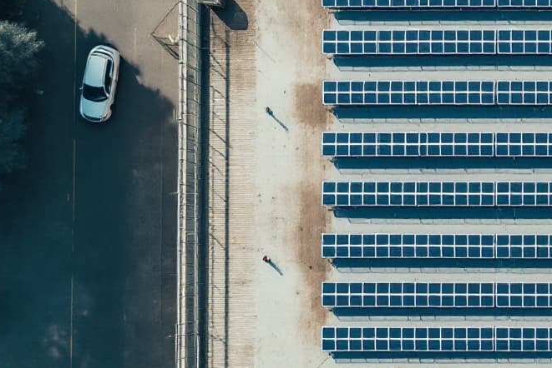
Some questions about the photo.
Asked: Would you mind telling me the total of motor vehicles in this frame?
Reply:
1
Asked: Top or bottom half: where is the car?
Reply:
top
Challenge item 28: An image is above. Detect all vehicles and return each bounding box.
[79,46,123,123]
